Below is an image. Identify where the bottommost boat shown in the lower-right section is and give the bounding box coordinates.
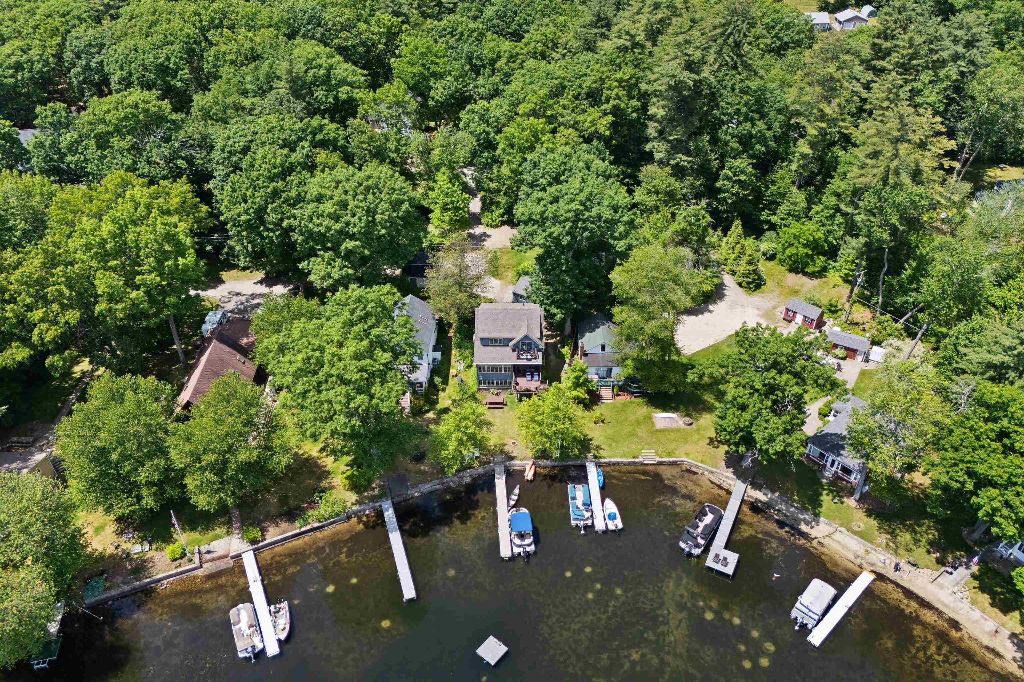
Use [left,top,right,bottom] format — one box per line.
[786,574,840,635]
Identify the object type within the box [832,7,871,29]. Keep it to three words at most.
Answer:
building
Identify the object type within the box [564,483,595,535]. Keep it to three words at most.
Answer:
boat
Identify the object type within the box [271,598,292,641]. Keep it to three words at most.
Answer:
boat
